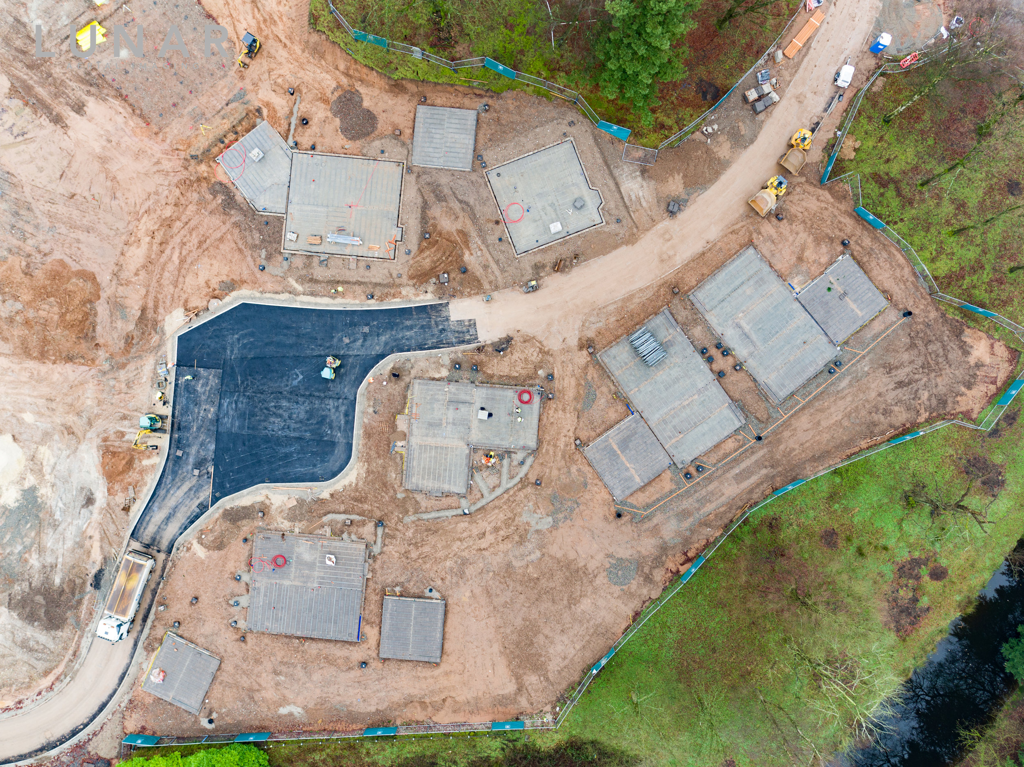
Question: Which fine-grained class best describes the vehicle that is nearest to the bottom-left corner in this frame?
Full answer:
The vehicle that is nearest to the bottom-left corner can be classified as a truck.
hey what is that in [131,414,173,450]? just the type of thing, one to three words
work vehicle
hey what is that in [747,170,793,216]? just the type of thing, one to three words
truck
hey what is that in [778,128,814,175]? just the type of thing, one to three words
truck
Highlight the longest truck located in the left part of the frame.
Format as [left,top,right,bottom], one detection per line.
[94,545,158,644]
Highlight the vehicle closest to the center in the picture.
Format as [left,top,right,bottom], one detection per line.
[321,354,340,380]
